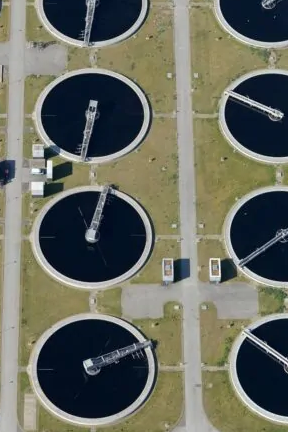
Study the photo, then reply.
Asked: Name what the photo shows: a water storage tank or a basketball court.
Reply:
water storage tank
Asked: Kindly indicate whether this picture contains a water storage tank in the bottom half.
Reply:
Yes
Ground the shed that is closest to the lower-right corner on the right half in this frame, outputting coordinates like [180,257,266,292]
[209,257,222,285]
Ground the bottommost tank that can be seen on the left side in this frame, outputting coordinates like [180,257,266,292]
[26,314,156,426]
